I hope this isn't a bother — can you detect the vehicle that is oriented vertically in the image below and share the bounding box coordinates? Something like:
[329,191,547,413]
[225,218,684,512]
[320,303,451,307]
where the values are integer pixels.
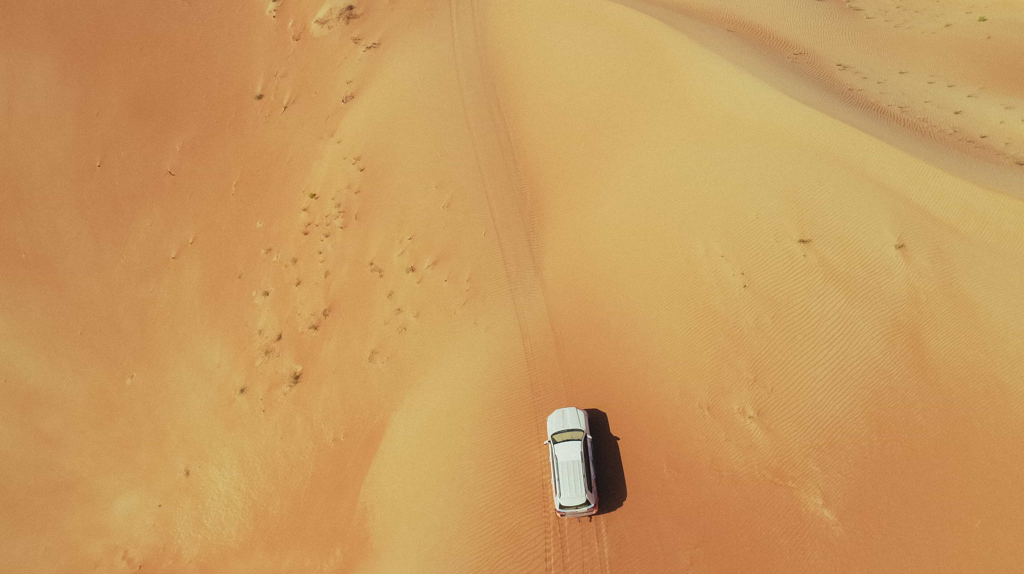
[542,406,598,522]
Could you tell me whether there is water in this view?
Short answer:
No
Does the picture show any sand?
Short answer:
Yes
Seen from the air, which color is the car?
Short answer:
white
